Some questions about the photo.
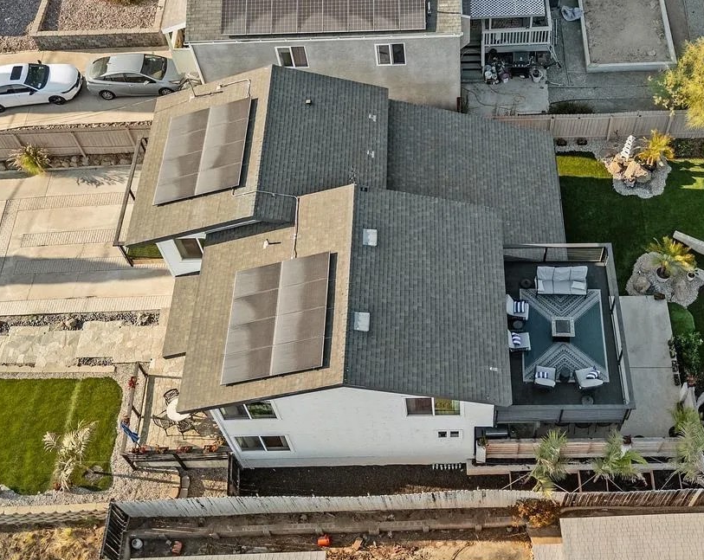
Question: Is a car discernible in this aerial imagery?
Yes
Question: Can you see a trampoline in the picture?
No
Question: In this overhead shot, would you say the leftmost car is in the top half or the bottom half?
top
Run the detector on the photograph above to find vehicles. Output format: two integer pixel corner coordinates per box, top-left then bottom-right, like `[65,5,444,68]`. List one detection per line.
[82,50,188,101]
[0,59,82,113]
